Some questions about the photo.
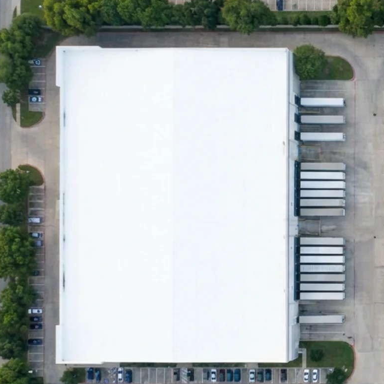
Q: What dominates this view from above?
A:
buildings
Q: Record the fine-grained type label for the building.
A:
warehouse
